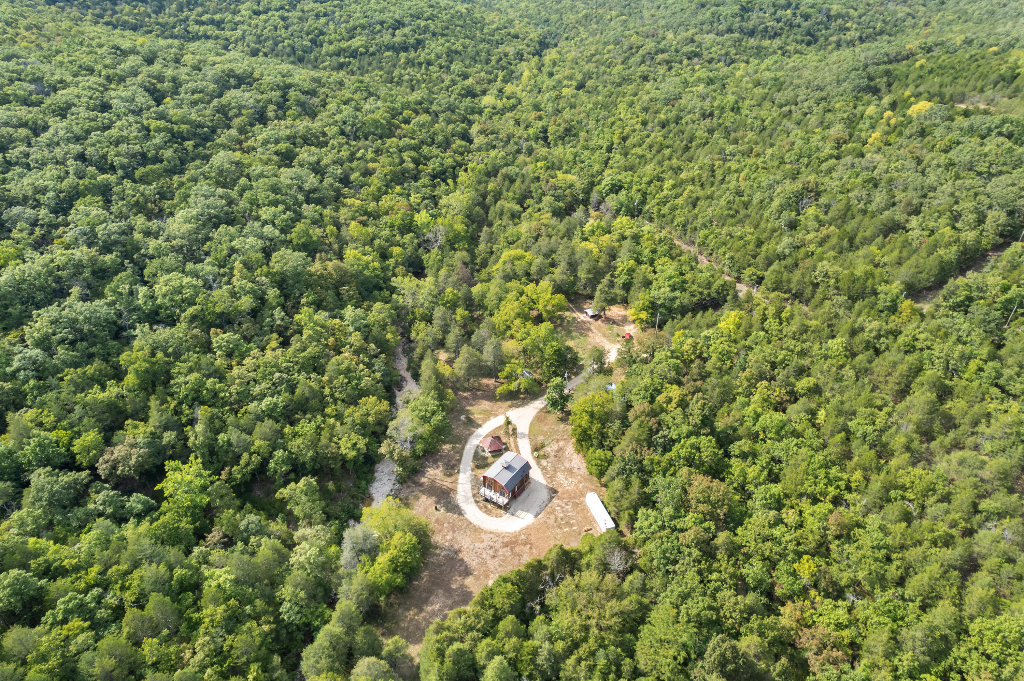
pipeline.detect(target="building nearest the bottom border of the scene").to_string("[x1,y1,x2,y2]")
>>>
[478,452,532,512]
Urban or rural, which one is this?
rural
